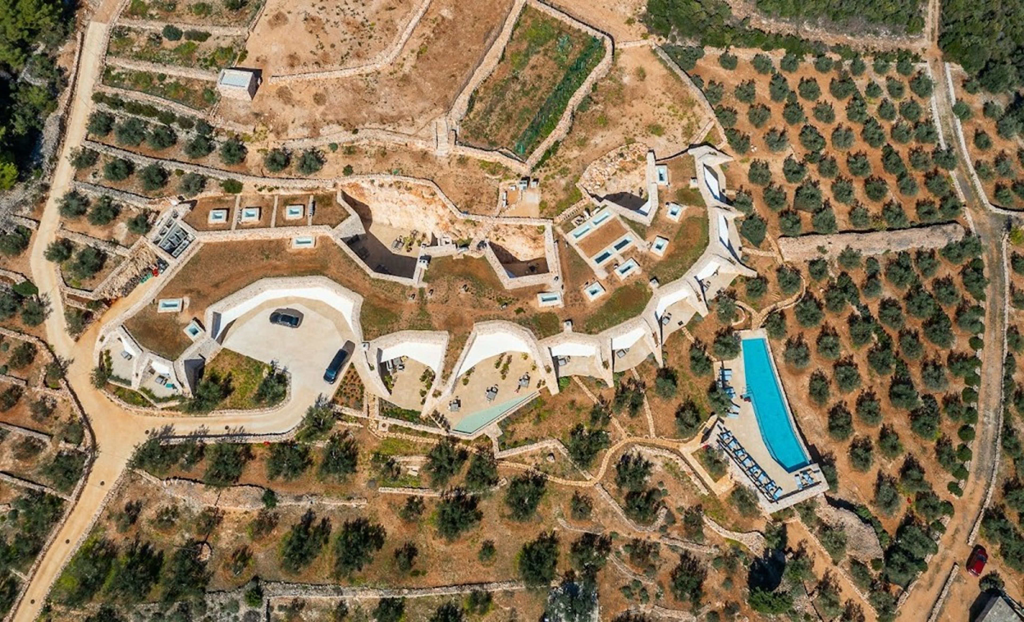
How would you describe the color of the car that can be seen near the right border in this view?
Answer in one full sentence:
The color of the car that can be seen near the right border is red.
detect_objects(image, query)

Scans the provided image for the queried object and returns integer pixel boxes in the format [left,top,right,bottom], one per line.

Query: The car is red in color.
[967,546,990,578]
